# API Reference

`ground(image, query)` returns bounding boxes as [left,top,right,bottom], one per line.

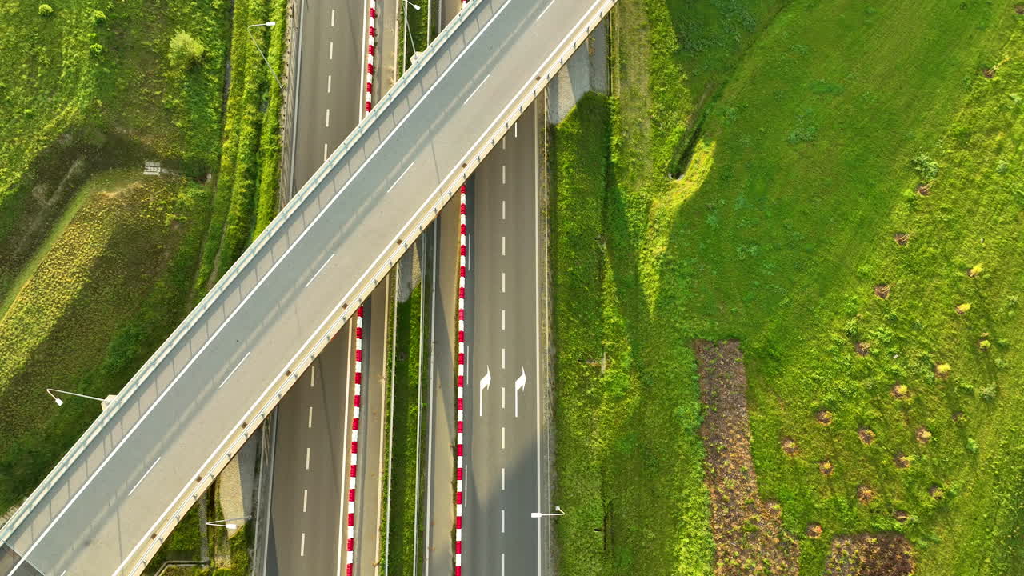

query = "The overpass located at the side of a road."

[0,0,619,576]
